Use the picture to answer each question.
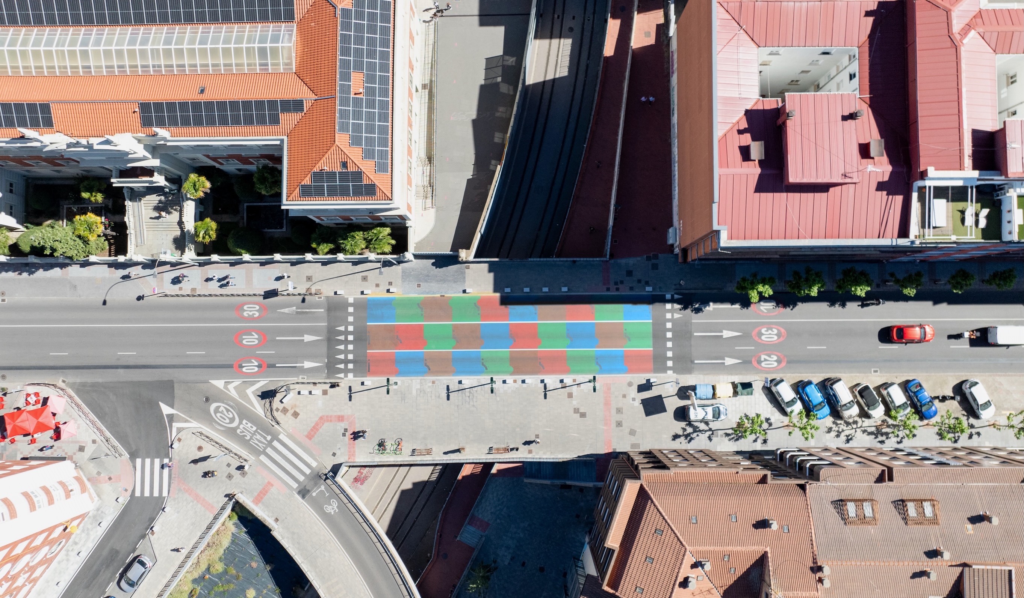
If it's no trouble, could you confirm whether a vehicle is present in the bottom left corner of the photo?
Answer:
Yes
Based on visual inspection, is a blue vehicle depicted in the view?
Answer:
Yes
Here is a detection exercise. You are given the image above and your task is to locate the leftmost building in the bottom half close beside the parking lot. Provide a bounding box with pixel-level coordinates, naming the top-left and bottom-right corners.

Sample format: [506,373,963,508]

[585,449,819,598]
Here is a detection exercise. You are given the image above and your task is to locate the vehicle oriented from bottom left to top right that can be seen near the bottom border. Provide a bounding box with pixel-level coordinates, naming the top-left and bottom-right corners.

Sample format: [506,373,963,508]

[118,549,157,596]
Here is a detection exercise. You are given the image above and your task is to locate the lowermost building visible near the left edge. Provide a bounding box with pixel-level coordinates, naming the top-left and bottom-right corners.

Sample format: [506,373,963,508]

[0,461,93,598]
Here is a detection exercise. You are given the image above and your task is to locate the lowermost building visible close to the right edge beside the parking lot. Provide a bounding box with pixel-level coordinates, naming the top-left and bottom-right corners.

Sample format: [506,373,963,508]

[775,443,1024,598]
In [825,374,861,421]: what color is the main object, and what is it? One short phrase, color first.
white car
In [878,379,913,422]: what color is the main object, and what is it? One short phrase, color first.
white car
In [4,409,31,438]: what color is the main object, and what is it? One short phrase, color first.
red umbrella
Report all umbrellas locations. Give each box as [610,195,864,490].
[26,405,58,435]
[4,409,31,438]
[59,420,83,440]
[48,395,72,414]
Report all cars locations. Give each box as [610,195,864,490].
[851,379,886,422]
[118,549,157,596]
[887,322,934,345]
[878,379,913,422]
[903,376,937,421]
[960,376,995,422]
[795,377,831,421]
[770,375,806,420]
[682,402,729,425]
[825,374,861,421]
